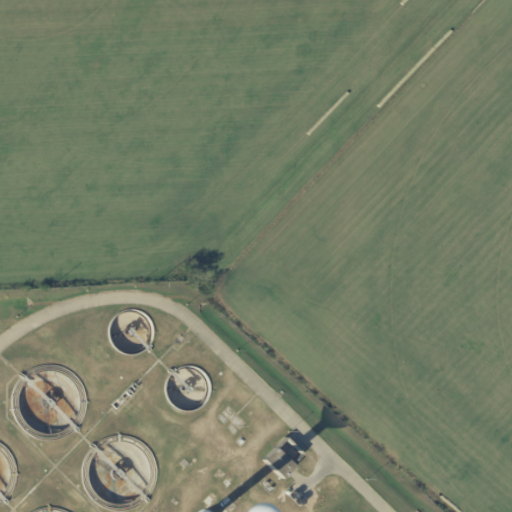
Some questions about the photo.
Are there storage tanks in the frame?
Yes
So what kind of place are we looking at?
farmland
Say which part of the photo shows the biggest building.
bottom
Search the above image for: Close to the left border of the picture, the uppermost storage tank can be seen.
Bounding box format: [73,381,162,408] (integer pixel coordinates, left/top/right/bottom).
[11,364,88,440]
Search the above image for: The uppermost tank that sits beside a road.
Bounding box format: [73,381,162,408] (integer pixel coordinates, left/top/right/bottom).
[108,308,156,355]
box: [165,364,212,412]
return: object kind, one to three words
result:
storage tank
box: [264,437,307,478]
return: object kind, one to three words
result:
building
